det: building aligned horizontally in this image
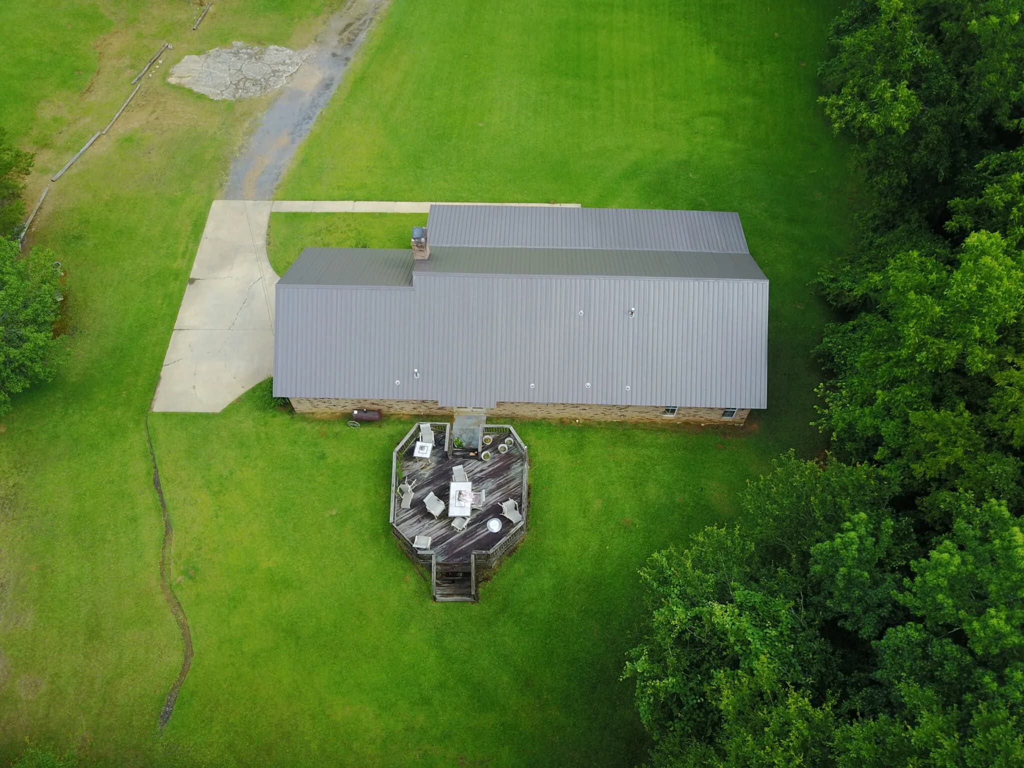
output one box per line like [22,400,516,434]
[272,205,769,425]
